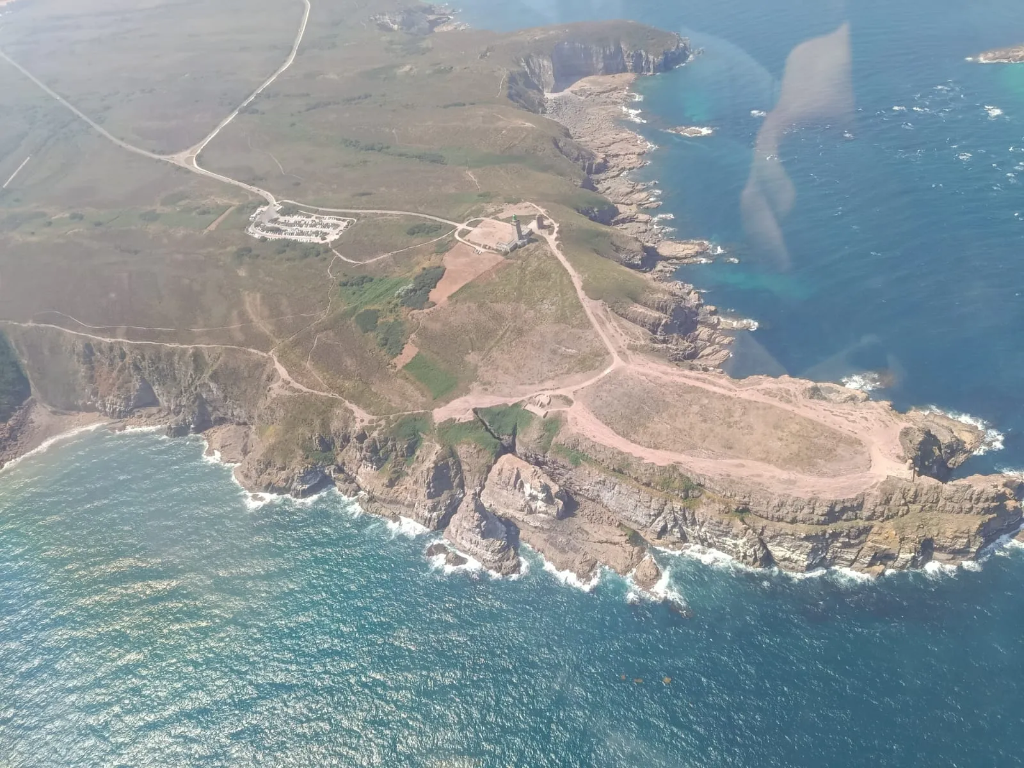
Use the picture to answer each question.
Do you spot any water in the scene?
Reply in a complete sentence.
Yes, the picture does contain water.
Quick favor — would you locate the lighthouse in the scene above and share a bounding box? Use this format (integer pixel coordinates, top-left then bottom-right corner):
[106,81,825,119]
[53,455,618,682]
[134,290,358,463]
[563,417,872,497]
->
[497,213,539,260]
